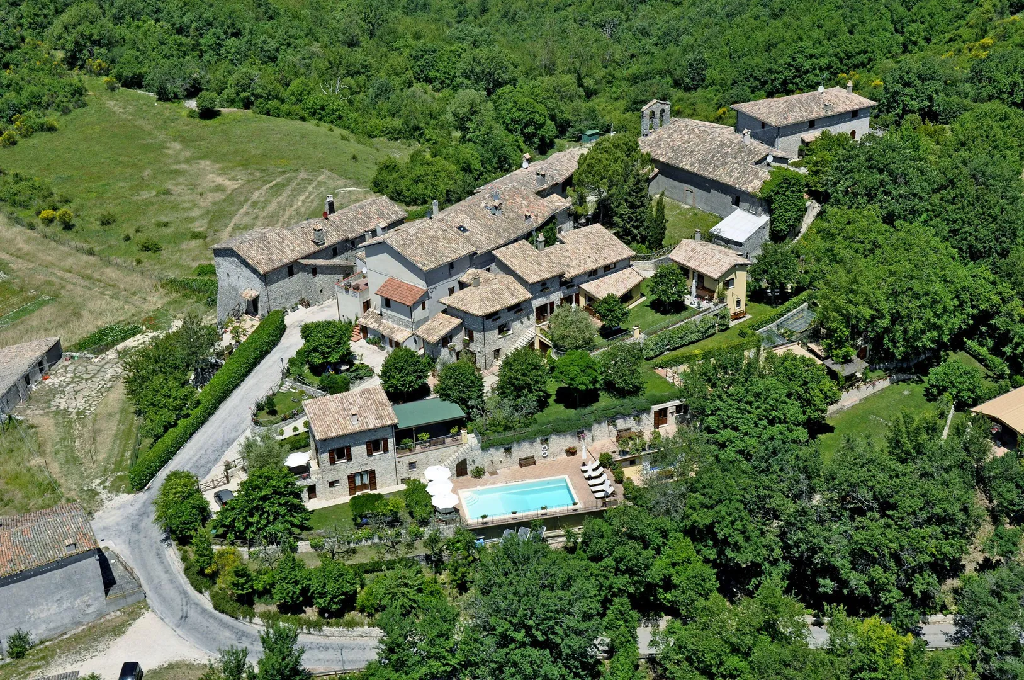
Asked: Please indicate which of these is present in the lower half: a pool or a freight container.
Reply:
pool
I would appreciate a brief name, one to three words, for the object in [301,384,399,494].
building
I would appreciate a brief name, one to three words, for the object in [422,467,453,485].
umbrella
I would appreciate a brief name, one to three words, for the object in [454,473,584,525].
swimming pool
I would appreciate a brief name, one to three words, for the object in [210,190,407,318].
house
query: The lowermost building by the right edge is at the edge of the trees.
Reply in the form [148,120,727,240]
[965,386,1024,471]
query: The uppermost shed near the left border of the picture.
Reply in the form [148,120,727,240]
[0,324,59,422]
